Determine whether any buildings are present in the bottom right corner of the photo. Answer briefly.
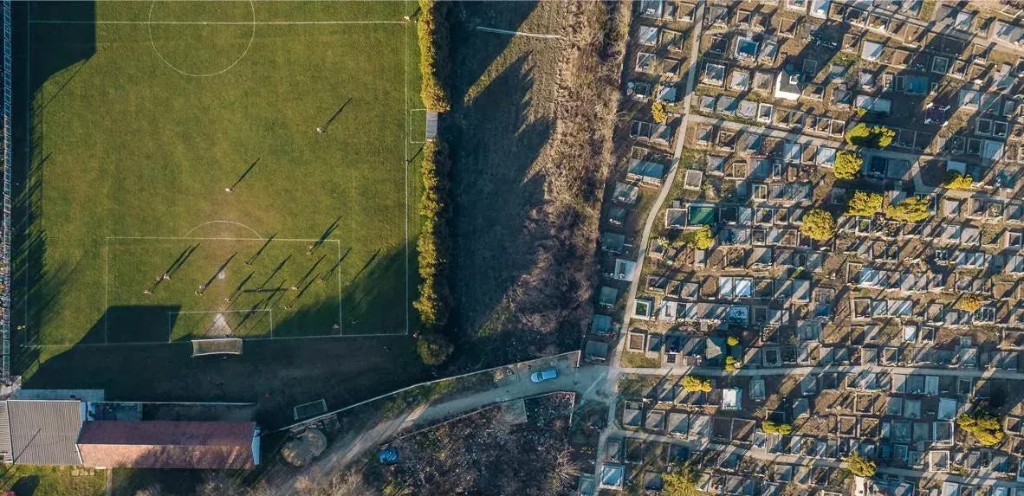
No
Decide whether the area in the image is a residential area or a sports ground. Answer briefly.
sports ground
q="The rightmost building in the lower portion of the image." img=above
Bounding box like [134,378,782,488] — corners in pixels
[74,421,262,469]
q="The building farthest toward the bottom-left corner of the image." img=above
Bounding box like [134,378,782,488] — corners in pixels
[0,400,97,465]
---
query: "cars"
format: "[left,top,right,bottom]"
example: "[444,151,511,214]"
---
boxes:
[531,368,558,383]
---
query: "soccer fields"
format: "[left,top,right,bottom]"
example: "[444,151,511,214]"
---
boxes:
[11,0,424,386]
